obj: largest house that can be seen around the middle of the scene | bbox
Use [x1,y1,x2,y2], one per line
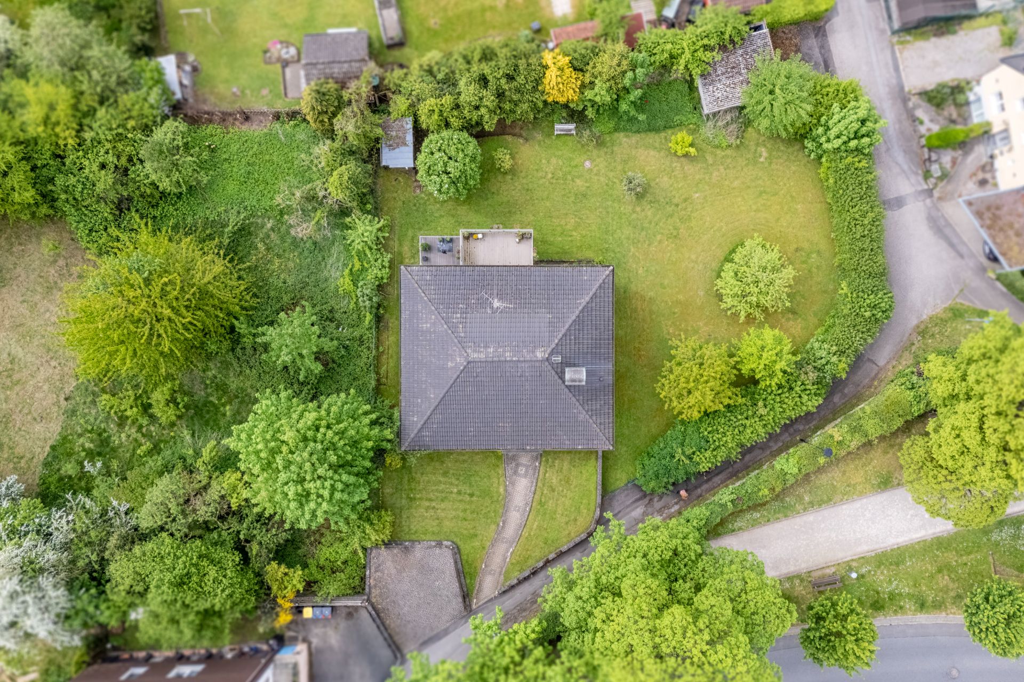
[399,264,616,454]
